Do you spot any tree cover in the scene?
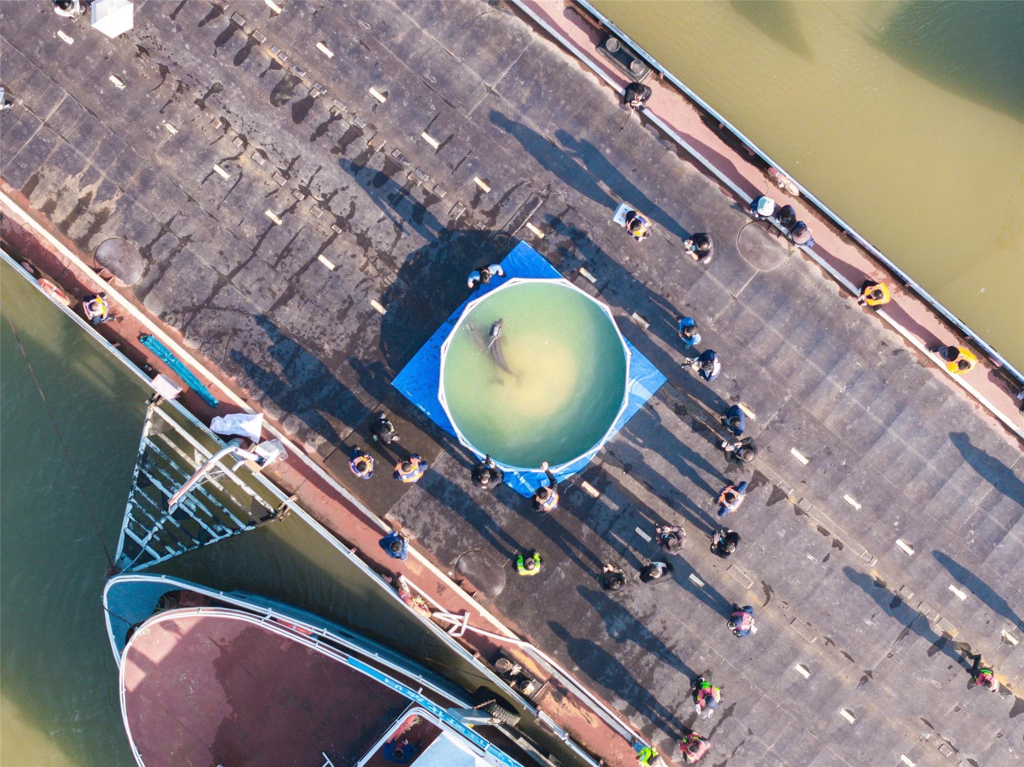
No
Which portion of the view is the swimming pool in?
center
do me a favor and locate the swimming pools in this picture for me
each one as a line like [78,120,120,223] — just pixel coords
[437,279,630,472]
